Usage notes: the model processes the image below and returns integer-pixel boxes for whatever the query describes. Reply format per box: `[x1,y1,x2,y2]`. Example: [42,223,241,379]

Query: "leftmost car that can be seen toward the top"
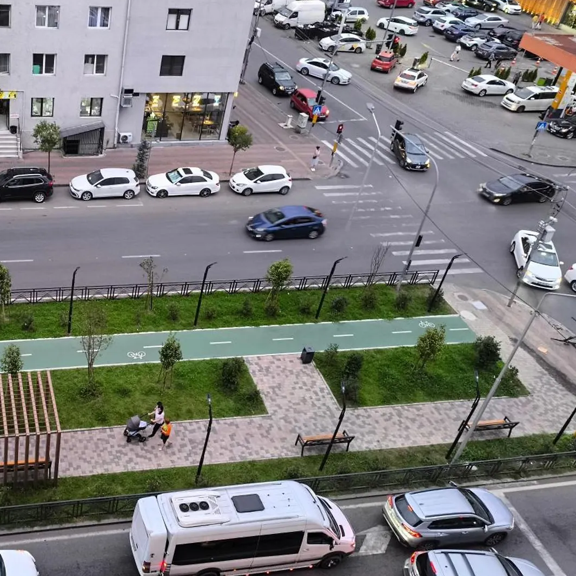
[0,164,57,202]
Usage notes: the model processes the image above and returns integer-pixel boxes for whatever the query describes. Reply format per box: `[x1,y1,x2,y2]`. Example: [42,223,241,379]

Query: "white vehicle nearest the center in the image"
[227,163,294,195]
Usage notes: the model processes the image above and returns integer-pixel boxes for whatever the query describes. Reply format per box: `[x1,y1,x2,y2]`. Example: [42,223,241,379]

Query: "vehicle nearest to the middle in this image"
[245,204,330,240]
